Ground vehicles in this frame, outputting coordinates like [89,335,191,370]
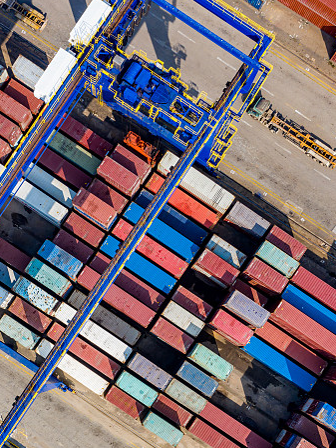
[249,94,336,169]
[0,0,47,36]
